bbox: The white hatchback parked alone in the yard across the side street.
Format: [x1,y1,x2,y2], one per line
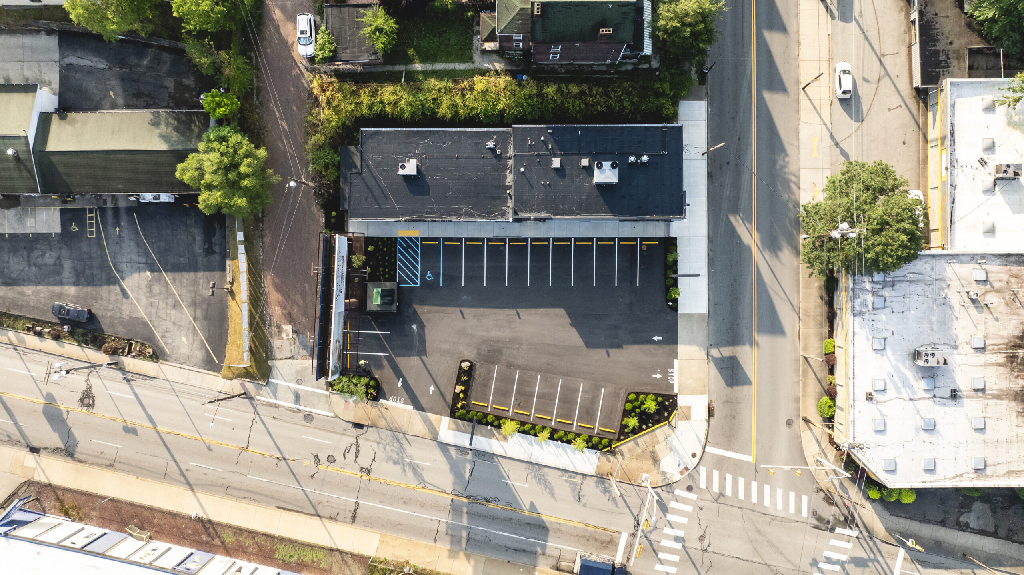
[835,62,855,98]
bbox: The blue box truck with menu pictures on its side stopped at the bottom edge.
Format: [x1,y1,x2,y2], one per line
[573,549,629,575]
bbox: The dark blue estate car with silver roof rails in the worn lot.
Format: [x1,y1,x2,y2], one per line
[52,302,93,322]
